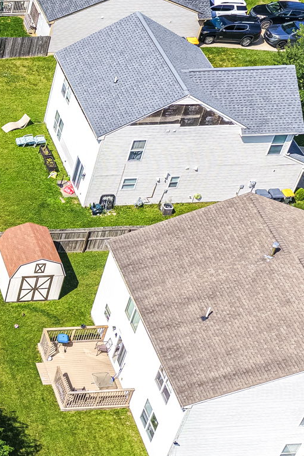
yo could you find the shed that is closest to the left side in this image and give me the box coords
[0,224,66,301]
